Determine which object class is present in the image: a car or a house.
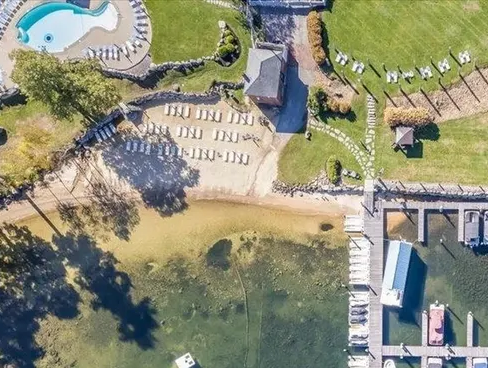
house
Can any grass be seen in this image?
Yes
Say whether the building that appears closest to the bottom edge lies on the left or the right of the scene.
right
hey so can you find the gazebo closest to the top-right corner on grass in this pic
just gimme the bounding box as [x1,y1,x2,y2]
[395,127,414,148]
